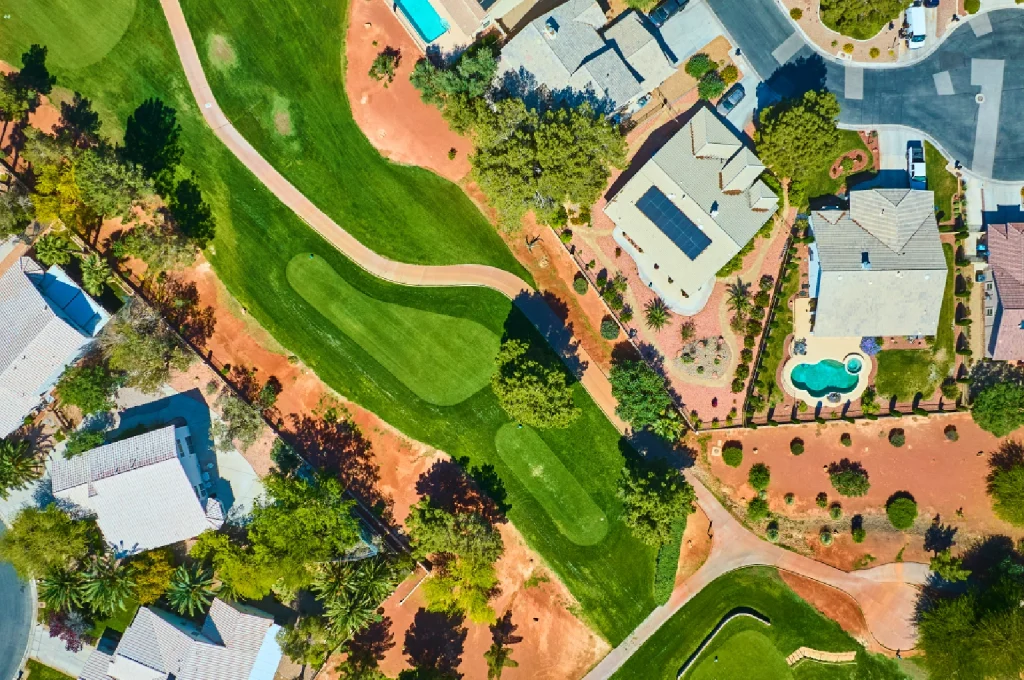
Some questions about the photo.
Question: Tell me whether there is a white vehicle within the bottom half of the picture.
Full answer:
No, no white vehicle can be made out within the bottom half of the picture.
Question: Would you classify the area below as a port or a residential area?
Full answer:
What you see here is a residential area.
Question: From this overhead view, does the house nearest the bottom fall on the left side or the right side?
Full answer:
It is on the left.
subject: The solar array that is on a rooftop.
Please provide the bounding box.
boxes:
[636,186,711,260]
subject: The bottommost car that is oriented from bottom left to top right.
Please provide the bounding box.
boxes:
[714,82,748,113]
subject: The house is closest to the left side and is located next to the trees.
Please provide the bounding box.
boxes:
[0,257,122,455]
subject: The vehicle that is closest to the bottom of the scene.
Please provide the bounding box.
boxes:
[904,148,925,190]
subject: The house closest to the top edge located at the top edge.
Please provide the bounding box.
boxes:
[444,0,501,36]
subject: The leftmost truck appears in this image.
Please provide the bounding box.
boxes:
[649,0,689,24]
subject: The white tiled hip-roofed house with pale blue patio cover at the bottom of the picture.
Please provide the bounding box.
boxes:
[85,591,284,680]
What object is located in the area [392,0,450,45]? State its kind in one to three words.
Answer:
swimming pool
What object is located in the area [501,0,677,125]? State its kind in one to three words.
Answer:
house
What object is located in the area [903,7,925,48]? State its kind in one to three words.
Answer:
vehicle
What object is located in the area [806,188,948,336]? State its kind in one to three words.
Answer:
house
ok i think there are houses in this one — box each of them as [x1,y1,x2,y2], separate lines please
[603,106,780,290]
[51,424,228,556]
[501,0,677,125]
[0,257,122,455]
[977,221,1024,360]
[444,0,501,36]
[85,591,284,680]
[806,188,948,336]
